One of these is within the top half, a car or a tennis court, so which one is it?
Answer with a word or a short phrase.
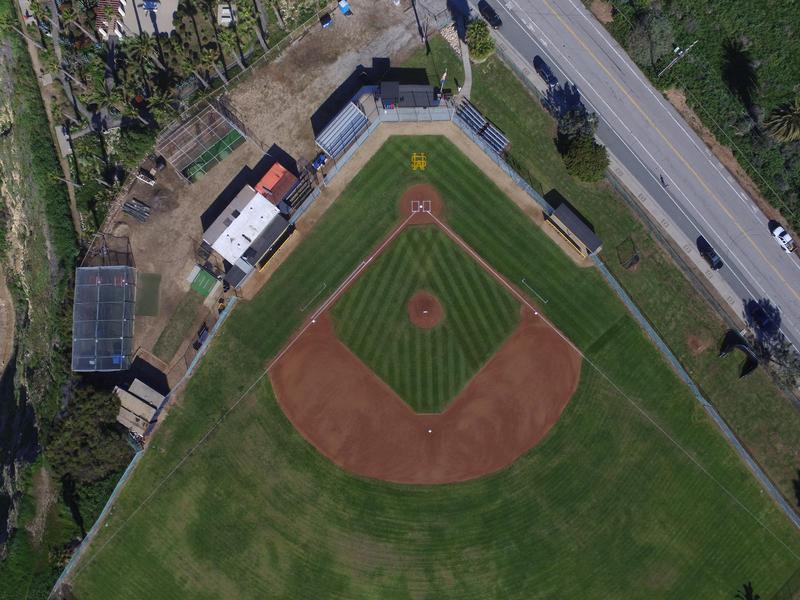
car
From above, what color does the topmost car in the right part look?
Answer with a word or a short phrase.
black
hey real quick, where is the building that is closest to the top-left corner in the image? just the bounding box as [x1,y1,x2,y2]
[97,0,135,45]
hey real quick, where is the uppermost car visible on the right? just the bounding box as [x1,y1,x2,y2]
[479,0,503,26]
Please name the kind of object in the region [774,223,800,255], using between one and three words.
truck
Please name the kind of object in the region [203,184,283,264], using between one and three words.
building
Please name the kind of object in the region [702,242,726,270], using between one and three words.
car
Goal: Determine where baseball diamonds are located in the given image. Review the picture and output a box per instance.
[53,123,800,600]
